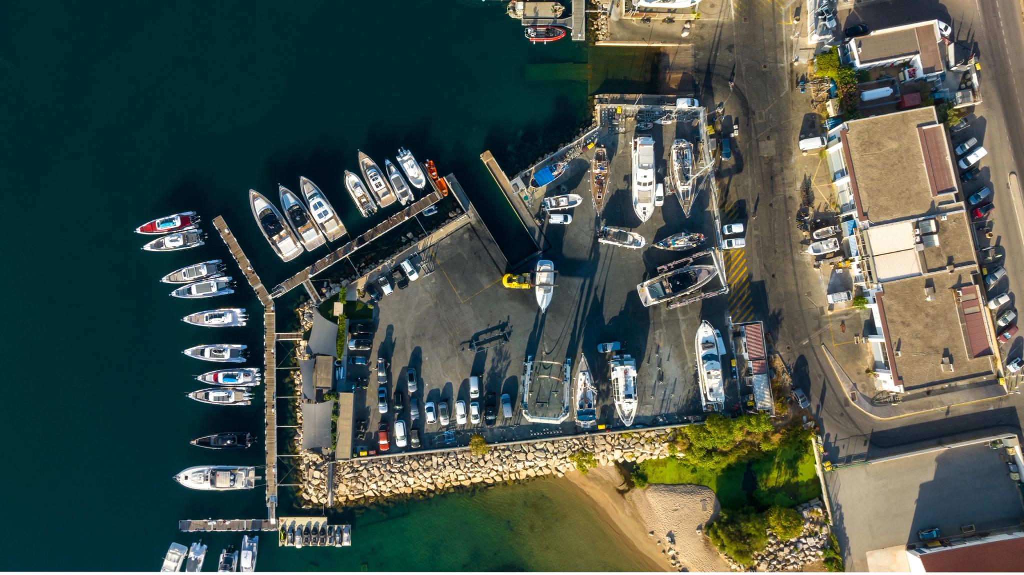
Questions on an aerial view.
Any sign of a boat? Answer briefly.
Yes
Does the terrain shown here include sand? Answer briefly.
Yes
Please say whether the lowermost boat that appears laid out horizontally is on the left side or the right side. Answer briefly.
left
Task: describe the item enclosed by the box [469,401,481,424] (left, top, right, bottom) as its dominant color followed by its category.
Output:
white vehicle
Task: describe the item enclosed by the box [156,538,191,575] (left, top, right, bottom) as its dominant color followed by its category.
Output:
white boat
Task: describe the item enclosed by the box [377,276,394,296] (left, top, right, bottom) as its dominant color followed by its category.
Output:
white vehicle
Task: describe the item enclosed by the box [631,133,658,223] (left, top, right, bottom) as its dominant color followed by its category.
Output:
white boat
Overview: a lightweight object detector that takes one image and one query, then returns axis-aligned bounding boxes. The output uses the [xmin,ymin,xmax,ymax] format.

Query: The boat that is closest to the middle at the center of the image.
[535,260,554,315]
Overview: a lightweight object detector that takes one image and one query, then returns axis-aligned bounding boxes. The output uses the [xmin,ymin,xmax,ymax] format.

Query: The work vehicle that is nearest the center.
[503,272,558,289]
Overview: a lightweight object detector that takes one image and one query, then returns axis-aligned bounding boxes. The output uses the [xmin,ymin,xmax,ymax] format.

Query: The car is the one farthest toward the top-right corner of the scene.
[936,20,953,39]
